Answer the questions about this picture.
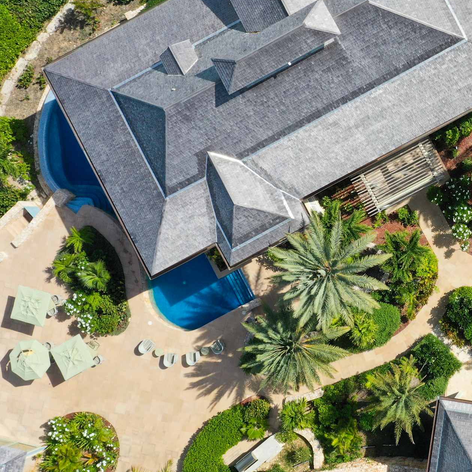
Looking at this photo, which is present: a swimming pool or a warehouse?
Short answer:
swimming pool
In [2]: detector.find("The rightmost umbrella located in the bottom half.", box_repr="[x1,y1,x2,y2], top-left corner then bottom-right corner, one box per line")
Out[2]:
[47,334,97,382]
